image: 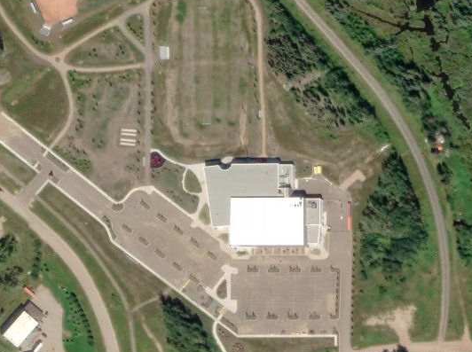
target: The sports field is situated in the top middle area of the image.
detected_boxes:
[162,0,259,155]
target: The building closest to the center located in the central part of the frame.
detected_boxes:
[205,163,320,247]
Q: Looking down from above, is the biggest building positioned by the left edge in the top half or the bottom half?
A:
bottom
